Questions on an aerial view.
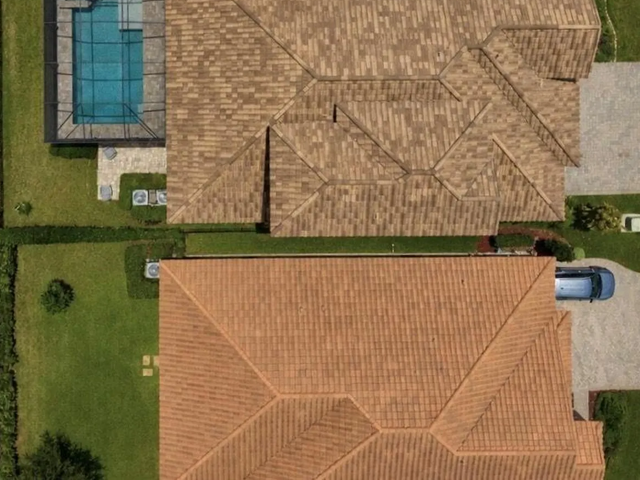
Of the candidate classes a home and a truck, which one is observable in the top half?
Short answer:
home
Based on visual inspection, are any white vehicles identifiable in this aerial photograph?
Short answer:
No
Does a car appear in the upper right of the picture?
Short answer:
No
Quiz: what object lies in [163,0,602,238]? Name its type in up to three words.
house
